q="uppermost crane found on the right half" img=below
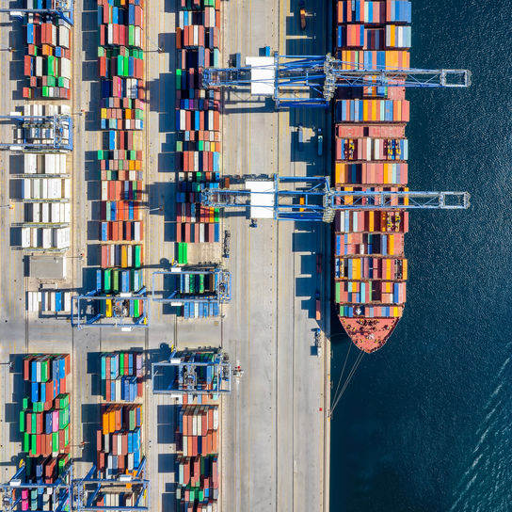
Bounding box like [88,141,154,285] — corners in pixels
[202,54,473,112]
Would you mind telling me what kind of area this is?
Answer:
port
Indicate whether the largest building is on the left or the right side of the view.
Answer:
left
